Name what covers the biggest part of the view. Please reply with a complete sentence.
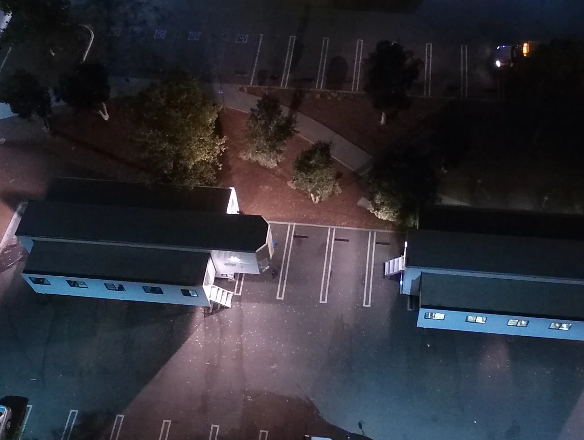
The scene is dominated by paved ground.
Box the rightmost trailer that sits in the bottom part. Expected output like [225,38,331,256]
[403,203,584,339]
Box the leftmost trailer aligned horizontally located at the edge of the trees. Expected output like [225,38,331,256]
[19,177,275,308]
